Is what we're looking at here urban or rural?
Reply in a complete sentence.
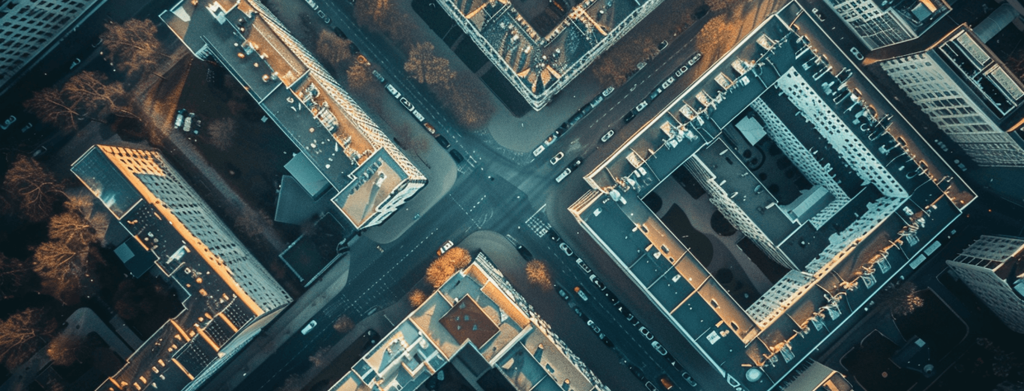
The land in this view is best described as urban.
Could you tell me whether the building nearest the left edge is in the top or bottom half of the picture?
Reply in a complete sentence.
Seen from above, the building nearest the left edge lies in the top half of the view.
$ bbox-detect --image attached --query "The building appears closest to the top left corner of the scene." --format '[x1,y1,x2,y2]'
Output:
[0,0,107,93]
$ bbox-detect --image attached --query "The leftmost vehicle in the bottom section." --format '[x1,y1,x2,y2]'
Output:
[299,319,316,336]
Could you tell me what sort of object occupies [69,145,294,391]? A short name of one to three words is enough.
building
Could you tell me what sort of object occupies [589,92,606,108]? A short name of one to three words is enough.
vehicle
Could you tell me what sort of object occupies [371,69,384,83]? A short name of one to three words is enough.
vehicle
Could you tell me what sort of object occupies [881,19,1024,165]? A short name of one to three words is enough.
building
